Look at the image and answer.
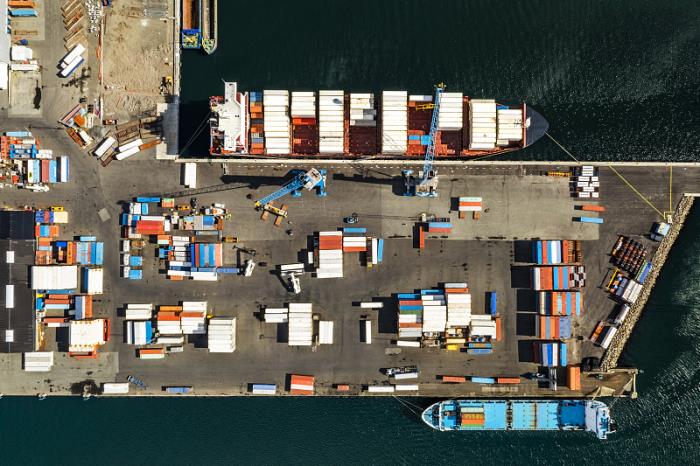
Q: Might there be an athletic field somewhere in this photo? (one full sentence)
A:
No, there is no athletic field in the image.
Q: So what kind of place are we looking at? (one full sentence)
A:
This image shows a port.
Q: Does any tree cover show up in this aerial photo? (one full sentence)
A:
No, no tree cover is visible.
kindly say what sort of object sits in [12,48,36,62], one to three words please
building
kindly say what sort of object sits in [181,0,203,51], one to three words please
ship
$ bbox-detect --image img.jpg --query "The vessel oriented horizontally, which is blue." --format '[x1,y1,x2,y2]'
[421,398,619,439]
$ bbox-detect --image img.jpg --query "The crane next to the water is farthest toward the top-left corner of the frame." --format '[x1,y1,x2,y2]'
[252,164,328,212]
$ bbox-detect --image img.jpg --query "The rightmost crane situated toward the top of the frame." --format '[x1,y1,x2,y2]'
[403,81,446,201]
